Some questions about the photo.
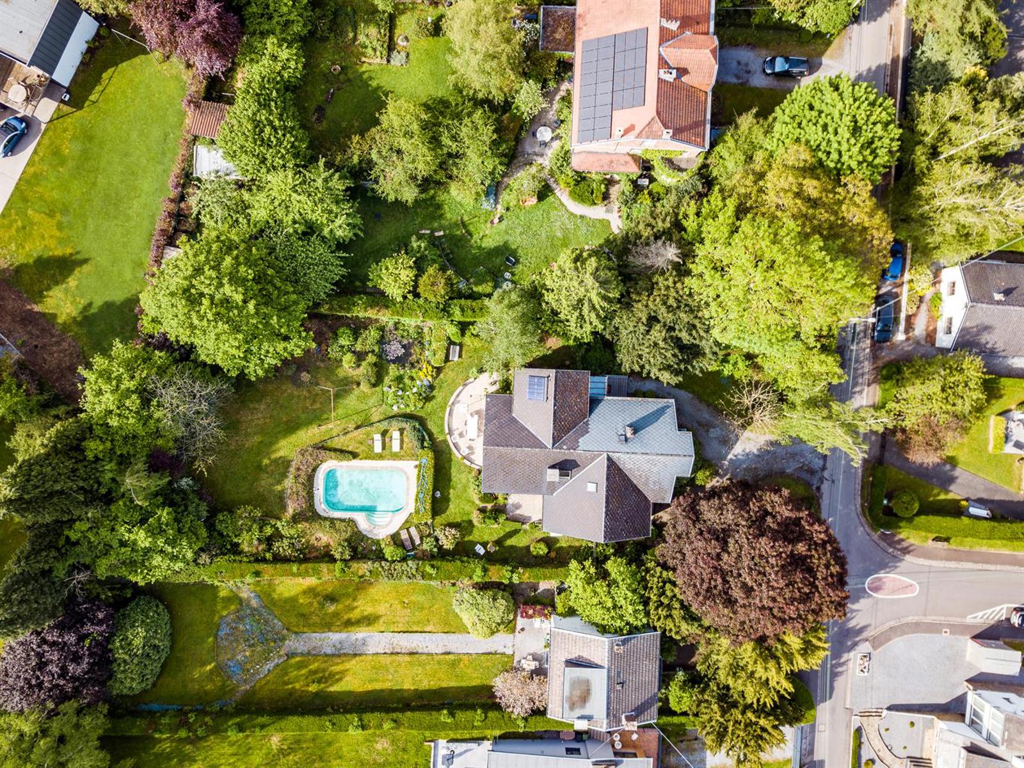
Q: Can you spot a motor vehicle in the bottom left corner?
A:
No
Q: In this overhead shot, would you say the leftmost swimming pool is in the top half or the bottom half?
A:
bottom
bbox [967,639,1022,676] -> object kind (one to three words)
building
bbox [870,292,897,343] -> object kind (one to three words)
car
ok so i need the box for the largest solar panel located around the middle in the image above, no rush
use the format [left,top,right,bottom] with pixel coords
[526,373,549,403]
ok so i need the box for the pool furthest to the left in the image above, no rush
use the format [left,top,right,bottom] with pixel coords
[314,460,417,539]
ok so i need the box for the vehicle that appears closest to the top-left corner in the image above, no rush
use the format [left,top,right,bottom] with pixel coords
[0,114,33,158]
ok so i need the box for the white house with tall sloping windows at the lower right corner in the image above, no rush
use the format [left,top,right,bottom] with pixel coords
[942,684,1024,755]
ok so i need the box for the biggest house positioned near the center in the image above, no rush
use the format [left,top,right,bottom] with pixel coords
[481,368,695,543]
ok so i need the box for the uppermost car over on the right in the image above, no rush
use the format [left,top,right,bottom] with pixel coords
[761,54,810,79]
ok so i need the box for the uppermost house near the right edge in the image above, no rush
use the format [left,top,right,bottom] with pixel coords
[938,262,1024,355]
